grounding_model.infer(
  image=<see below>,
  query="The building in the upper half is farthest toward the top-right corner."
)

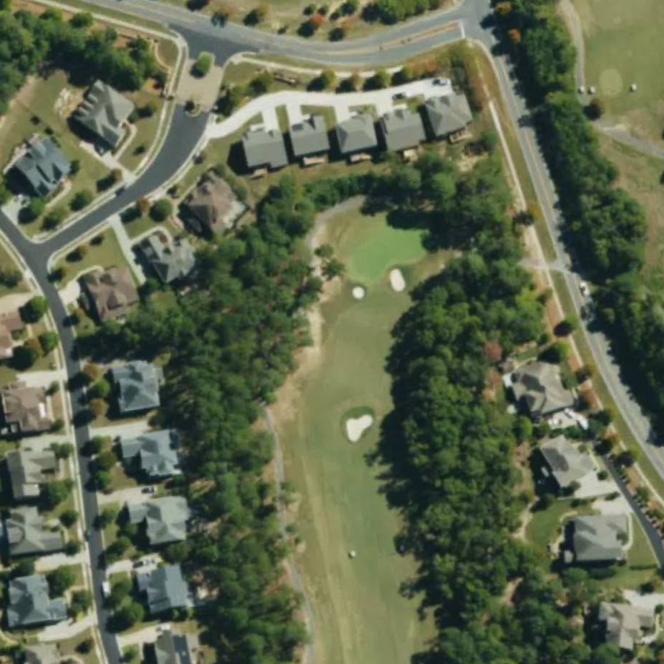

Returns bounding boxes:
[425,92,475,140]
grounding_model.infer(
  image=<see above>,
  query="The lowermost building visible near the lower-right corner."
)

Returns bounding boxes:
[593,601,658,654]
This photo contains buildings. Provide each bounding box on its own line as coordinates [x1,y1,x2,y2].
[184,174,242,232]
[21,645,82,664]
[290,114,329,161]
[153,629,197,664]
[108,362,167,411]
[0,310,24,360]
[242,127,286,175]
[538,433,600,489]
[119,430,187,476]
[566,512,630,566]
[383,108,425,156]
[127,496,191,543]
[0,507,67,556]
[82,266,139,319]
[337,112,378,158]
[2,574,73,626]
[514,358,578,418]
[138,231,194,283]
[425,92,475,140]
[11,131,71,194]
[134,563,196,613]
[5,388,52,433]
[3,449,59,502]
[593,601,658,654]
[74,83,134,147]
